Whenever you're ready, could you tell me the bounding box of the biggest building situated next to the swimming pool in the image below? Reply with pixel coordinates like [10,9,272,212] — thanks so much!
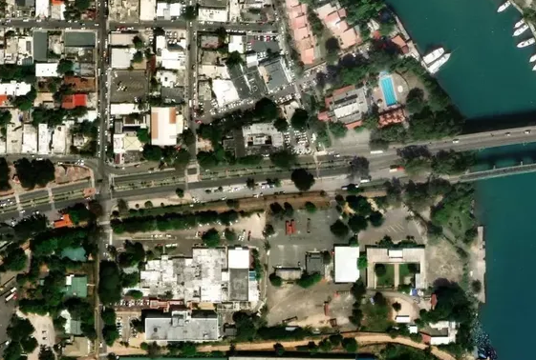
[322,85,368,123]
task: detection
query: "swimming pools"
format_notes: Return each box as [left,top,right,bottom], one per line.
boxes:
[379,73,397,106]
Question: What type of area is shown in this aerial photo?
residential area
